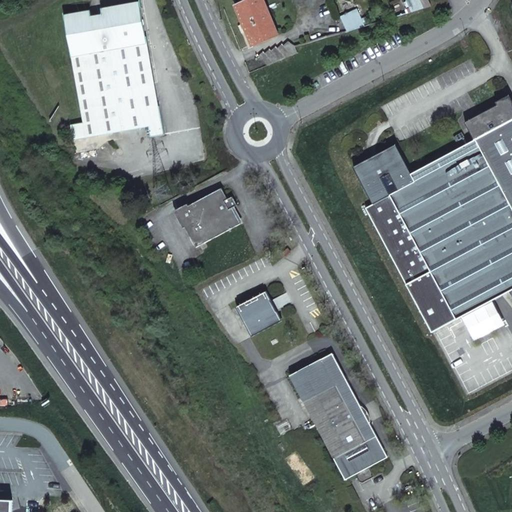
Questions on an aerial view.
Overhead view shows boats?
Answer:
No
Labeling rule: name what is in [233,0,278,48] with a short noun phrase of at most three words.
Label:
house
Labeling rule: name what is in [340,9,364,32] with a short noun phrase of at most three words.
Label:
shed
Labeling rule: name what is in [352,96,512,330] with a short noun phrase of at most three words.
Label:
building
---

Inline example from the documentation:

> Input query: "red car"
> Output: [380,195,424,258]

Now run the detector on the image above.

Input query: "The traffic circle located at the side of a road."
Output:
[222,99,290,166]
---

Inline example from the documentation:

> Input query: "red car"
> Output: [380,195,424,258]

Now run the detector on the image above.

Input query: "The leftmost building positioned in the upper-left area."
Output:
[62,0,165,140]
